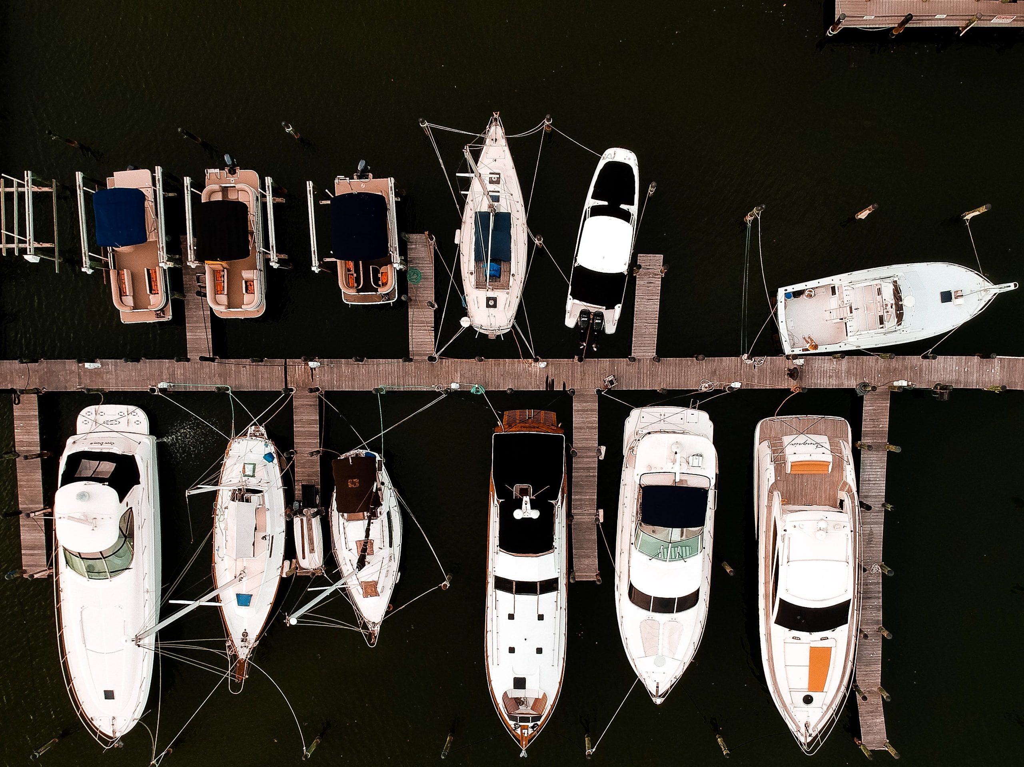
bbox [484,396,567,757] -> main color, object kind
white boat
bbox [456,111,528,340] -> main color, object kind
white boat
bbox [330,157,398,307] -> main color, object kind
black boat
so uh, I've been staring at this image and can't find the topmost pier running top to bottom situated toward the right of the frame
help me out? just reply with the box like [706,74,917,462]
[630,254,664,357]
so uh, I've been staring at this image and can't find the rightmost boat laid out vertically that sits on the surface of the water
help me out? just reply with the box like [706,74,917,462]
[751,415,863,756]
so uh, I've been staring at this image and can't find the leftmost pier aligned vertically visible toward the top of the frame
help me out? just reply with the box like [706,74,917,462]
[180,236,215,358]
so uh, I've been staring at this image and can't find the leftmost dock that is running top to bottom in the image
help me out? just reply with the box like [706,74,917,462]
[13,391,51,578]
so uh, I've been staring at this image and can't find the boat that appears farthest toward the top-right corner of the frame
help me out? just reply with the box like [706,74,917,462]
[770,262,1018,355]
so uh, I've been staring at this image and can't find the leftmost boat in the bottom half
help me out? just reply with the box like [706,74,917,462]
[53,404,167,753]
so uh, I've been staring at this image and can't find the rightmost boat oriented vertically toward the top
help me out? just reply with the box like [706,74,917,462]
[565,147,639,350]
